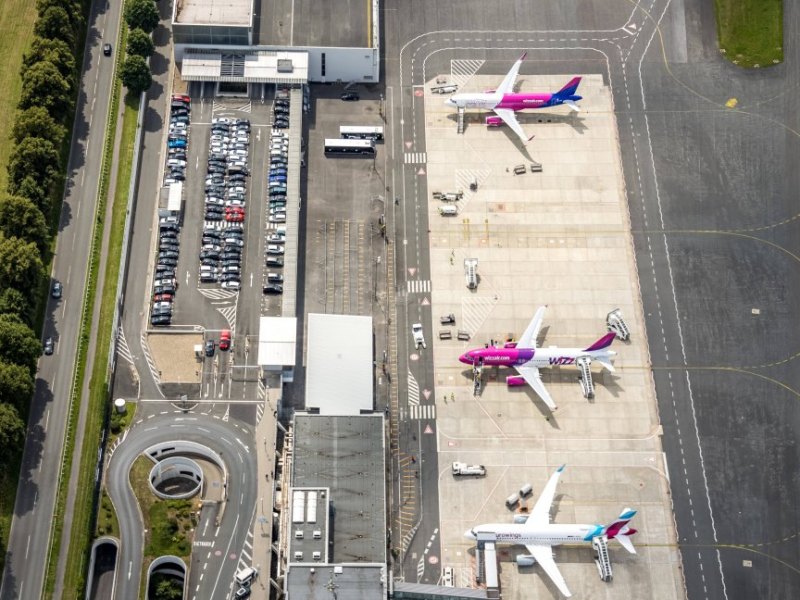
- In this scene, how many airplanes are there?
3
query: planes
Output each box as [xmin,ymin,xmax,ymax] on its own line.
[445,51,584,140]
[459,302,618,411]
[464,461,637,596]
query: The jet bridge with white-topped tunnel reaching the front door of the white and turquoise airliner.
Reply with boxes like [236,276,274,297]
[477,531,500,600]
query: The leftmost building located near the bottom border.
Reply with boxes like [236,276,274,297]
[270,411,388,600]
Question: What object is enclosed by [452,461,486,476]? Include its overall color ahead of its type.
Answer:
white work vehicle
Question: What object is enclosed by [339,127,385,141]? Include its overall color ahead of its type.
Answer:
white vehicle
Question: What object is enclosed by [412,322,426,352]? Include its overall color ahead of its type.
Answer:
white work vehicle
